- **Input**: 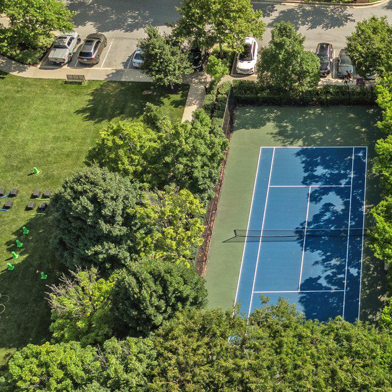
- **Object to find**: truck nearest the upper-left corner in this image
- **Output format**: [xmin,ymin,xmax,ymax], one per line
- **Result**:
[47,27,81,63]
